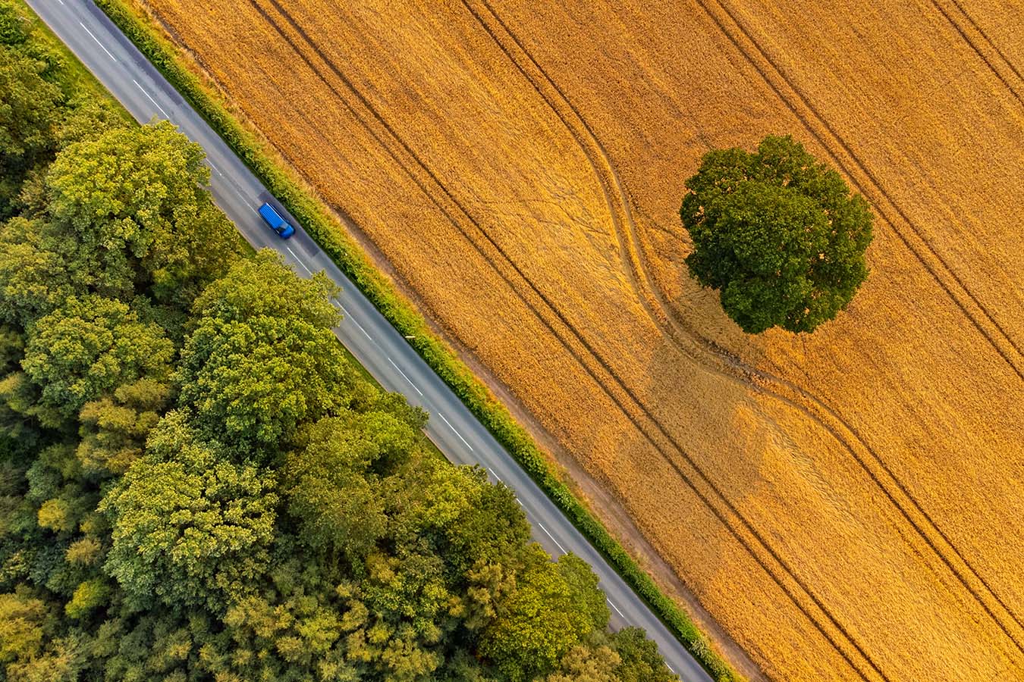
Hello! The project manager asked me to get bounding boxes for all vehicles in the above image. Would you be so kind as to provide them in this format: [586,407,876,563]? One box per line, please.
[259,202,300,243]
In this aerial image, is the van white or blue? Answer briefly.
blue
